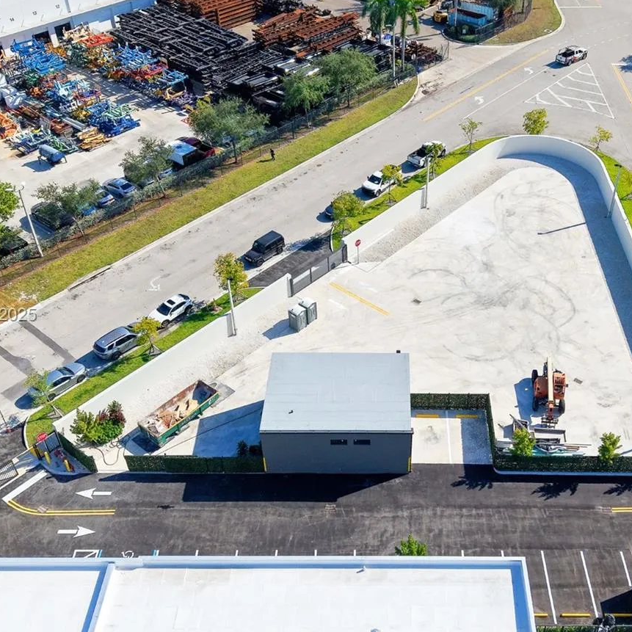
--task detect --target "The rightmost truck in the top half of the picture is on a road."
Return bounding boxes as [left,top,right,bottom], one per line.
[552,45,590,67]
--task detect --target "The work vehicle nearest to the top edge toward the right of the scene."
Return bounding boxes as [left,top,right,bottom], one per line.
[426,9,448,29]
